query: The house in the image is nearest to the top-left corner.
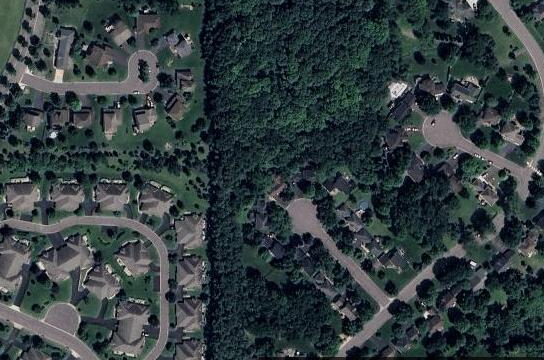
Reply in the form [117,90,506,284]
[53,32,71,72]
